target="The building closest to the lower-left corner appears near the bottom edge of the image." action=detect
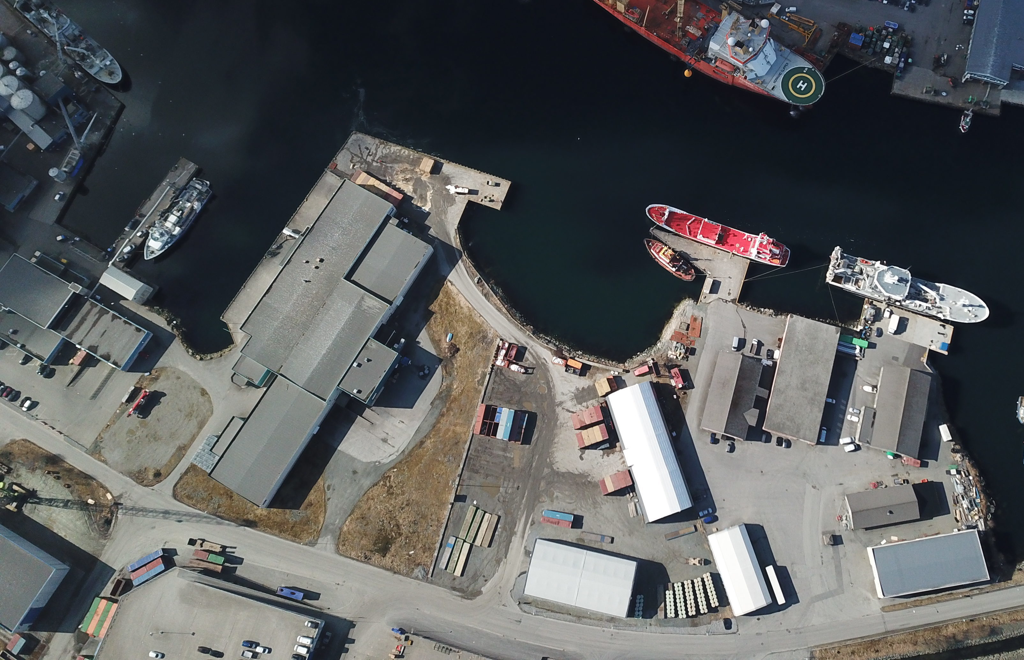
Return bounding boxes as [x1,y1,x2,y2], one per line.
[0,524,69,633]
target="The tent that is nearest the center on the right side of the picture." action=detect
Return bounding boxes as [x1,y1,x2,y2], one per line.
[607,382,692,523]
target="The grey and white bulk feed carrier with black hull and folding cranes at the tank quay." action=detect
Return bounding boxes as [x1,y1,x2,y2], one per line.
[9,0,125,88]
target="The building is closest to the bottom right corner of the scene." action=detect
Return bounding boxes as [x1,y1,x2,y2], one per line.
[864,530,990,598]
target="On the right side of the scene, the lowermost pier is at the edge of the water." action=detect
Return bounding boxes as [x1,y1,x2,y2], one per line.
[856,297,955,356]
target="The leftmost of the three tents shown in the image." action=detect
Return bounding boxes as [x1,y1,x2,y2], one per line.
[524,539,637,618]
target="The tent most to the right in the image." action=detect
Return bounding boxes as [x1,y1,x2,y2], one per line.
[707,525,772,616]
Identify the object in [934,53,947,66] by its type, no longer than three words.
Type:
vehicle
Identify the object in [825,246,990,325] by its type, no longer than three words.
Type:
ship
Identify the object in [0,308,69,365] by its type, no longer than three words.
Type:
building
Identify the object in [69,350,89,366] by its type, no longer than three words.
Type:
vehicle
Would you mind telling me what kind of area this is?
port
